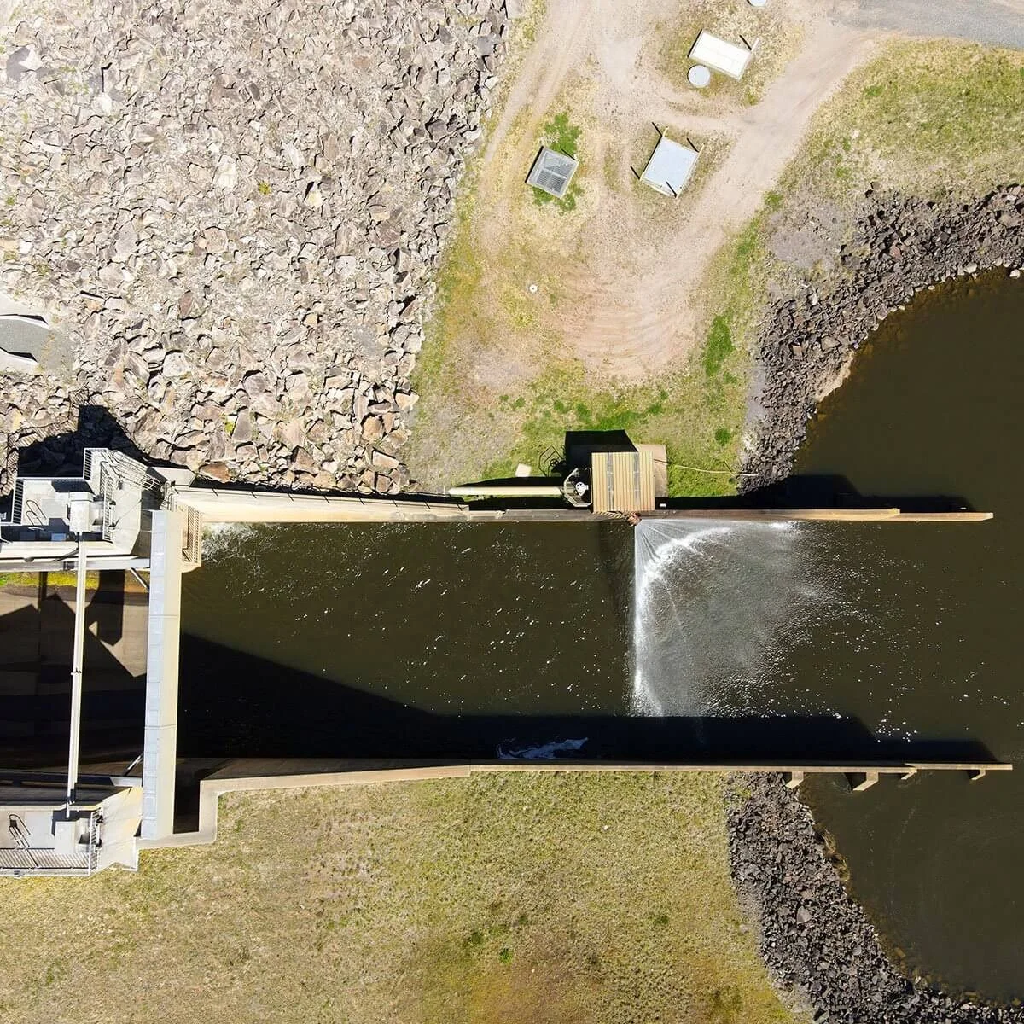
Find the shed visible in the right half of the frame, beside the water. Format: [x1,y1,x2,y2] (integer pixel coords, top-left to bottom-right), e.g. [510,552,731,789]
[590,452,655,512]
